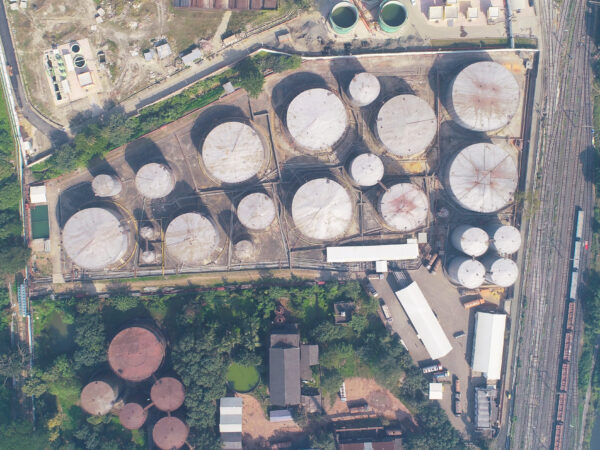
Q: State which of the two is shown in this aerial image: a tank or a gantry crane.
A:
tank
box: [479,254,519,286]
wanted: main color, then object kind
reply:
white storage tank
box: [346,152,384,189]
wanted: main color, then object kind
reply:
white storage tank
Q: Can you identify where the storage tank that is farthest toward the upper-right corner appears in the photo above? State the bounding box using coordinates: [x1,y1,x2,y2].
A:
[442,61,520,135]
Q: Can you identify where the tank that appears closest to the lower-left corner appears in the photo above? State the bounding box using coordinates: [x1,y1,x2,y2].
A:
[80,373,124,415]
